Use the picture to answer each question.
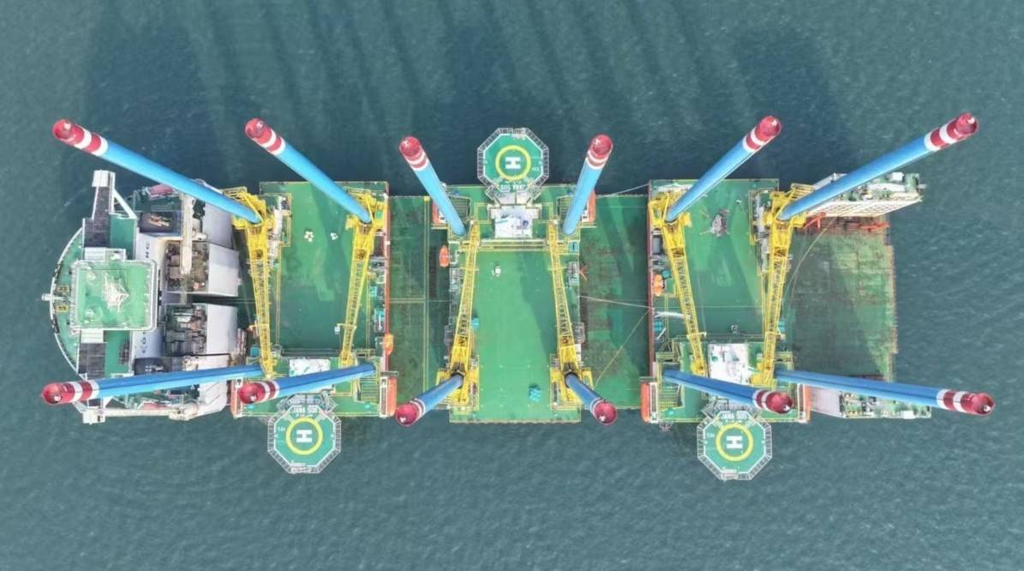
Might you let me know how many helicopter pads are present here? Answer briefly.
3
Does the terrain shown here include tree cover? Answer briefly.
No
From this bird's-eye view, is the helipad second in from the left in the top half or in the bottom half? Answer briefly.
top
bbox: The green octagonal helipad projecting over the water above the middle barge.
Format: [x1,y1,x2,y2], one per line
[475,127,548,209]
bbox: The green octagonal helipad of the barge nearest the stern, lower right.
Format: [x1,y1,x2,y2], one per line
[695,395,772,480]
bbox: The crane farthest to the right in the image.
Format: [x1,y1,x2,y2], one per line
[750,183,815,385]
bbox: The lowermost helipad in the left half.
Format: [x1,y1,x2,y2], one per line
[266,387,342,473]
